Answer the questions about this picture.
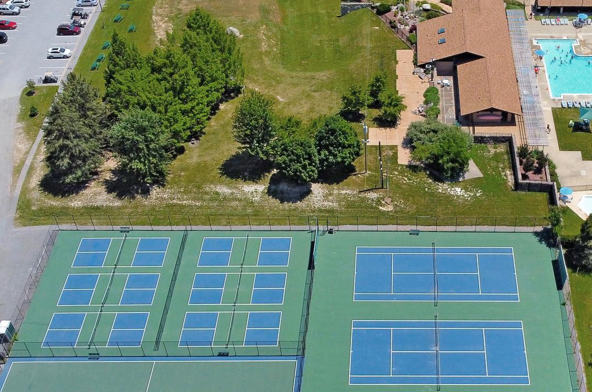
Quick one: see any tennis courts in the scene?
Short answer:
Yes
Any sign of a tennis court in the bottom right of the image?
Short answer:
Yes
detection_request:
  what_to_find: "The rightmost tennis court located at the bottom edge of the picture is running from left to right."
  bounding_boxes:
[349,320,530,384]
